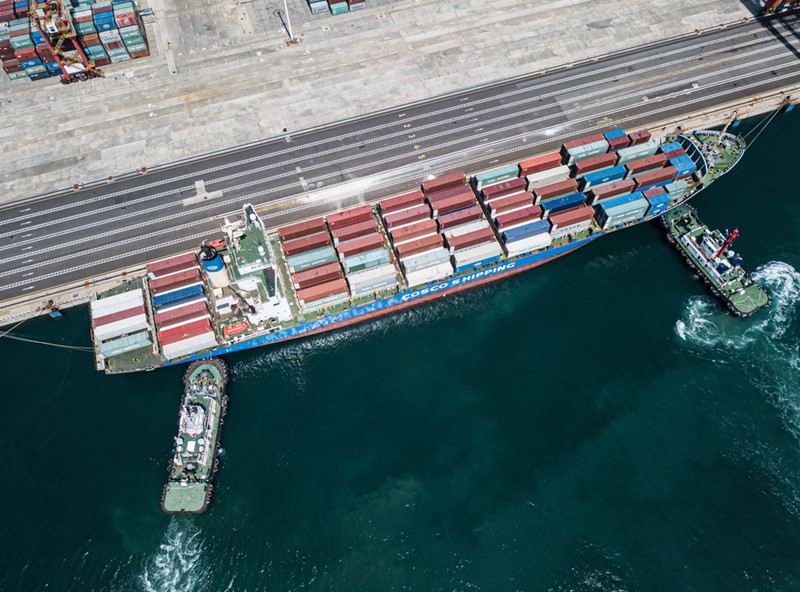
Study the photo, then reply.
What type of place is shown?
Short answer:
port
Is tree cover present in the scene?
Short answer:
No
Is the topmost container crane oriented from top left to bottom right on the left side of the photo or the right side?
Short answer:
left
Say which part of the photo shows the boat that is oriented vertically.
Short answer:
bottom left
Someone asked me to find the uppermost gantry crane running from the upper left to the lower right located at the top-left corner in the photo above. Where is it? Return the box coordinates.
[25,0,100,82]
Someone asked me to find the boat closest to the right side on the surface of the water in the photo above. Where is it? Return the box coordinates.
[663,202,774,320]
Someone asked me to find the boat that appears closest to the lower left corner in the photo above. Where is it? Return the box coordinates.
[158,358,228,517]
